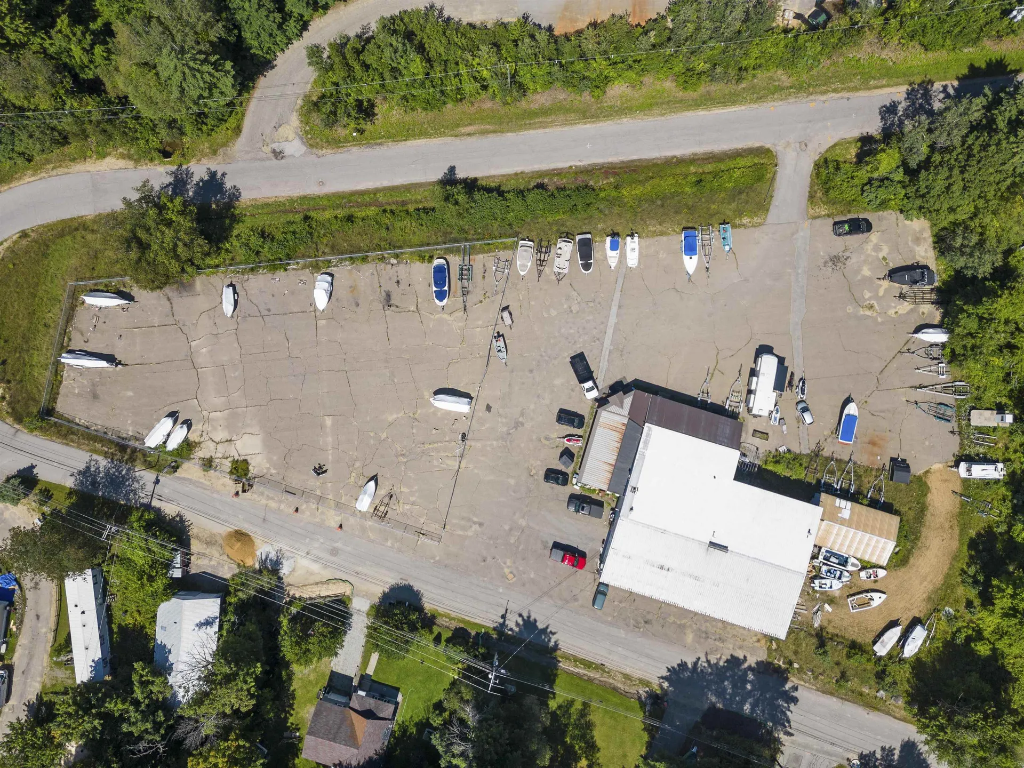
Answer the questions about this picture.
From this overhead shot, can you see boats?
Yes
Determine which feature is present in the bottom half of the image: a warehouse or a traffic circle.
warehouse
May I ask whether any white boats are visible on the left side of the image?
Yes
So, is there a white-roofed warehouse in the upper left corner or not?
No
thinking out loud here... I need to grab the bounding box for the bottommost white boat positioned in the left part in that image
[357,478,377,509]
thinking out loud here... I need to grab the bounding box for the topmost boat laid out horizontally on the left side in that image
[80,292,132,307]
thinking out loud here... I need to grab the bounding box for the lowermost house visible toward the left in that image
[302,683,399,768]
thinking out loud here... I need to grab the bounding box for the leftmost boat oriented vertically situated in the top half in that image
[223,285,236,316]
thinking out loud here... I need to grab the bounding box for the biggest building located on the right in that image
[600,390,822,641]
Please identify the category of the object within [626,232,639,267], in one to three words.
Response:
boat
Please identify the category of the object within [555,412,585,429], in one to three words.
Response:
car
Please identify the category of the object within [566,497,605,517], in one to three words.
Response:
vehicle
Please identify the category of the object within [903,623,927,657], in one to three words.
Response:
boat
